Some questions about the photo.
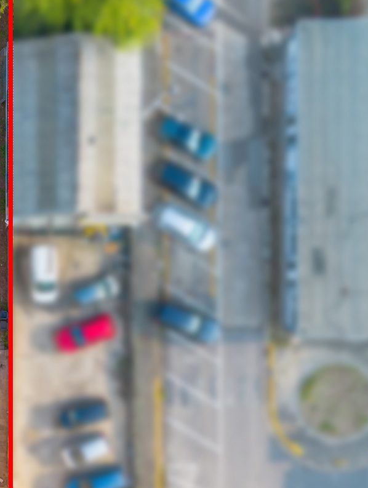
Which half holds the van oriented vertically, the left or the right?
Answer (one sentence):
The van oriented vertically appears in the left half of the scene.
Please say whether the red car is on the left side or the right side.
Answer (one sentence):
The red car sits on the left side.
